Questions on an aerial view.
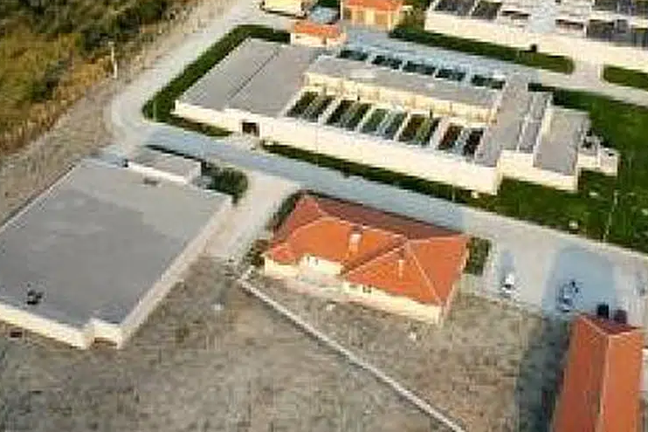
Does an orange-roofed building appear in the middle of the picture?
Yes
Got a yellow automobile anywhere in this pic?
No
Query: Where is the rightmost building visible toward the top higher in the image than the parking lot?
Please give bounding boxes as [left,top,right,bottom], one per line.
[576,134,621,188]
